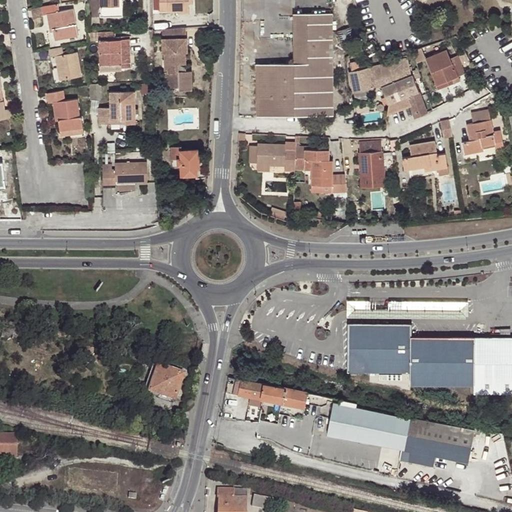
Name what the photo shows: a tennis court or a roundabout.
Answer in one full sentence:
I can see a roundabout in this picture.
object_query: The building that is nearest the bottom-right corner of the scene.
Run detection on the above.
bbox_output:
[401,422,474,468]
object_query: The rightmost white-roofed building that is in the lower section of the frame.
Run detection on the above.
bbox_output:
[474,338,512,394]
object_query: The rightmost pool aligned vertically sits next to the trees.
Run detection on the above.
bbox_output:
[442,181,456,206]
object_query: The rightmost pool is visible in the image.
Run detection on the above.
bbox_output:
[482,178,504,194]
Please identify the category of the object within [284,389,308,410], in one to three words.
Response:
house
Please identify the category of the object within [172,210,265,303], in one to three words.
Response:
roundabout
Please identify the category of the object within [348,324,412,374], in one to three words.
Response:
building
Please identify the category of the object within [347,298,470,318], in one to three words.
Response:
building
